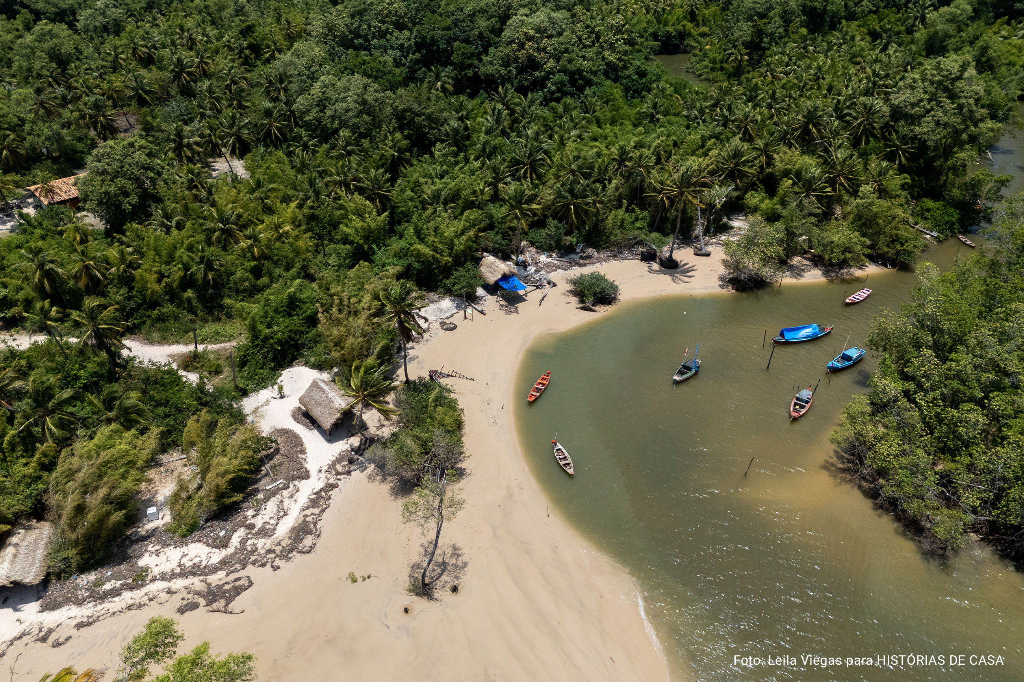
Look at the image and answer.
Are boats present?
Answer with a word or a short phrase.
Yes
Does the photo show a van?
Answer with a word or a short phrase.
No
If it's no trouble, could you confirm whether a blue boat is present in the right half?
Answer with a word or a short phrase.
Yes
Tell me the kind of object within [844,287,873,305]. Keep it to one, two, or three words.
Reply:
boat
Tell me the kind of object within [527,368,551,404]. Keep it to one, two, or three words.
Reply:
boat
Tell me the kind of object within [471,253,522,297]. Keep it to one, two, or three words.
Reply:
shed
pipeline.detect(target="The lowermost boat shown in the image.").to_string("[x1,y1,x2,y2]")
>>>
[546,425,575,479]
